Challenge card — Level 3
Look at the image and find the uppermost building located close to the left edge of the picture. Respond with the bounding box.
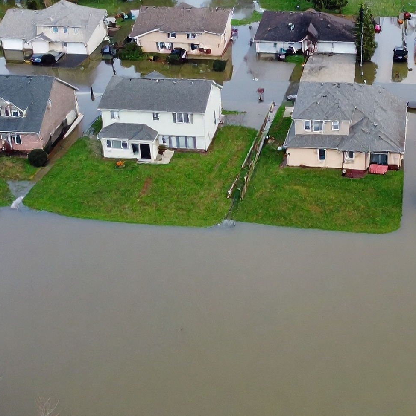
[0,3,105,63]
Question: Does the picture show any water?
Yes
